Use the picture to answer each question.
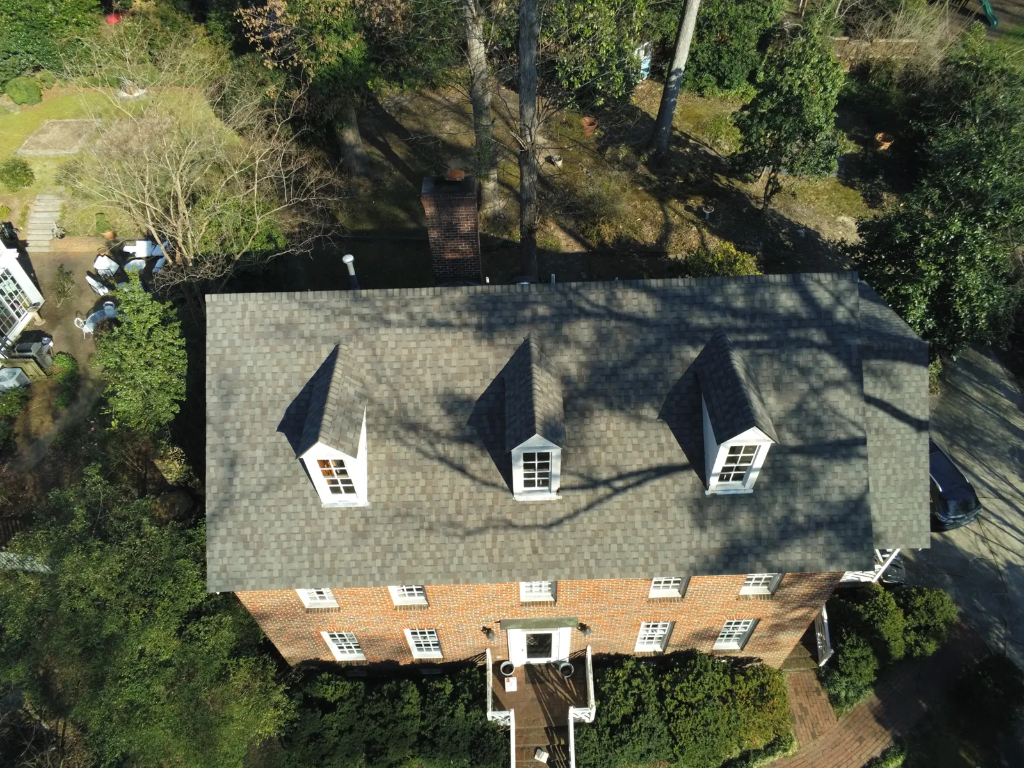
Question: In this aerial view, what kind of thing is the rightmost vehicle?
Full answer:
Looking closely, the rightmost vehicle is a car.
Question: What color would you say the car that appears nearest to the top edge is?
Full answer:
The car that appears nearest to the top edge is black.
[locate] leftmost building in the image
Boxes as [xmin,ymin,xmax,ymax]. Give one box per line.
[0,233,44,337]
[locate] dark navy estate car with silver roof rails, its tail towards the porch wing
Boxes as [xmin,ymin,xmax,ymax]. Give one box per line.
[930,431,984,531]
